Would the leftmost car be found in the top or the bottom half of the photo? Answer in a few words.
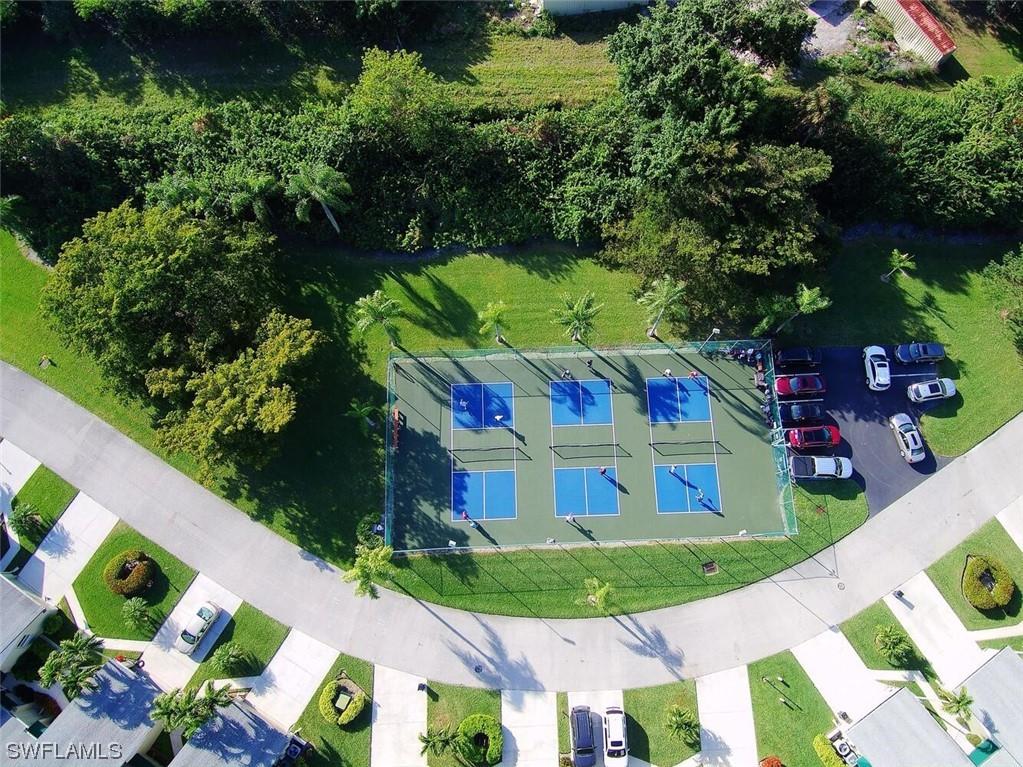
bottom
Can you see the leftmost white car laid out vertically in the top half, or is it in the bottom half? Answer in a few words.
bottom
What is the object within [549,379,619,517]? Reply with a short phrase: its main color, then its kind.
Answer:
blue sports court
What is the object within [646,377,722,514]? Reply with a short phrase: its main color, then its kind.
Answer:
blue sports court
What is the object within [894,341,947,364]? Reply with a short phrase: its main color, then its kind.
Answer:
blue car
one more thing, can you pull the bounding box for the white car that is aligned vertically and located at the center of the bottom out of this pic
[602,706,630,767]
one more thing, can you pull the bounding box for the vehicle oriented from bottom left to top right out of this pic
[177,599,222,655]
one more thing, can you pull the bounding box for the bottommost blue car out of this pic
[570,705,599,767]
